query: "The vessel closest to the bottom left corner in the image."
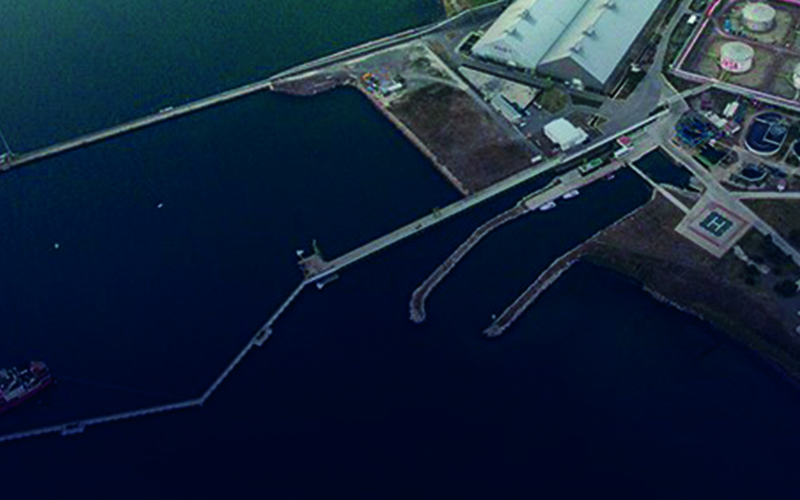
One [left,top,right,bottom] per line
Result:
[0,359,52,412]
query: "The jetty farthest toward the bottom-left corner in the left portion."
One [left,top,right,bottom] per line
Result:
[0,280,307,445]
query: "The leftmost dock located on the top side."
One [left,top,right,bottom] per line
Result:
[0,78,272,173]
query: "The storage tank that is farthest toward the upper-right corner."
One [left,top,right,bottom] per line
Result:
[739,2,774,32]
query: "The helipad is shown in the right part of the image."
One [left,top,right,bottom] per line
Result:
[676,198,751,257]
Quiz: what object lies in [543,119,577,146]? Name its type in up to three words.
building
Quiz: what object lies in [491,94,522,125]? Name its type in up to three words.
shed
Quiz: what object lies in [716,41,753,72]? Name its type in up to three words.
storage tank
